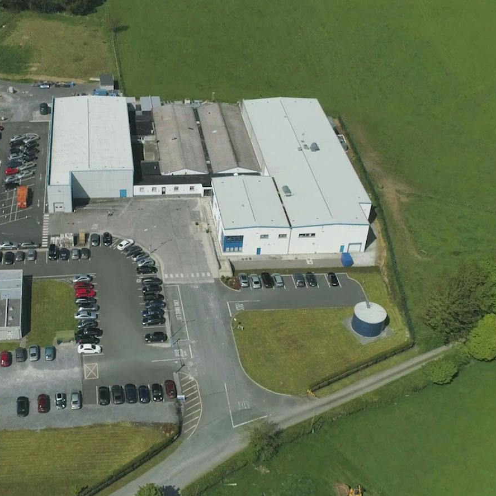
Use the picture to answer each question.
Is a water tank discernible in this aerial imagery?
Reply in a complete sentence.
Yes, the image includes a water tank.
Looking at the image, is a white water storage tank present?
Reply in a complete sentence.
Yes, a white water storage tank appears in the view.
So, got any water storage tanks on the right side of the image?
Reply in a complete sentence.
Yes, on the right side of the image there is a water storage tank.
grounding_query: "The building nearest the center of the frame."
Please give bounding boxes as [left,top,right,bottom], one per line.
[211,175,289,255]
